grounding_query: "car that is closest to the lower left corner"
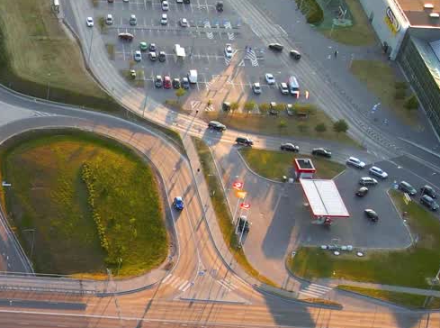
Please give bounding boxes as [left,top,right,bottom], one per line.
[170,195,185,210]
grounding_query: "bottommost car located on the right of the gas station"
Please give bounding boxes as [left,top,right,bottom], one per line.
[360,209,383,223]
